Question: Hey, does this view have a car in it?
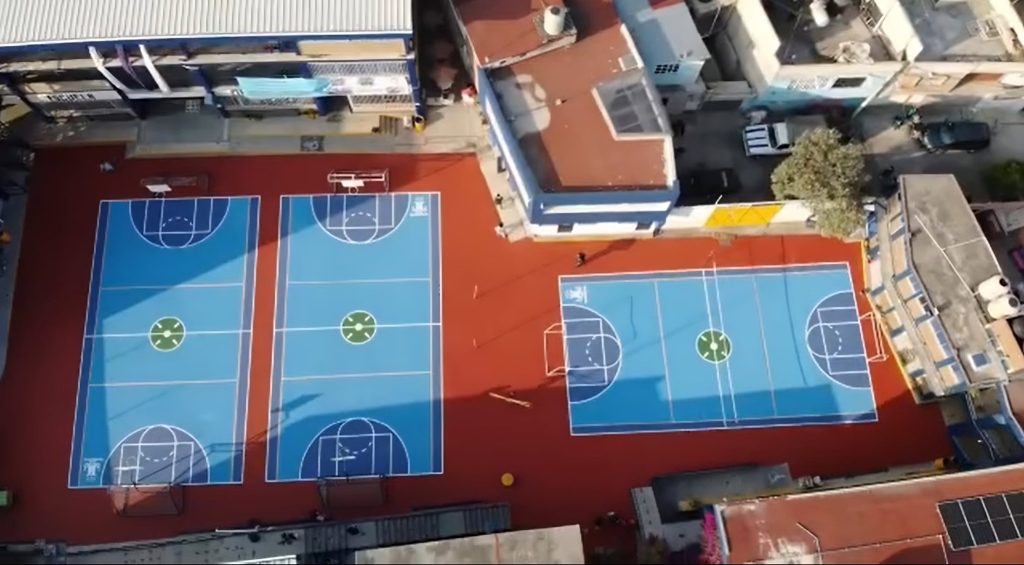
Yes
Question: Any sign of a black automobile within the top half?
Yes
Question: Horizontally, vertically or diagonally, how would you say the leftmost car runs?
horizontally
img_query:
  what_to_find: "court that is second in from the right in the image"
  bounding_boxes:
[266,191,444,481]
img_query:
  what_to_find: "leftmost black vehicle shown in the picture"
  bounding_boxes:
[679,170,751,203]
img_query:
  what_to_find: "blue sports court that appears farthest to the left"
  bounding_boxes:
[66,196,261,488]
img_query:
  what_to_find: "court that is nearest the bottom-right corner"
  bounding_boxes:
[559,262,878,436]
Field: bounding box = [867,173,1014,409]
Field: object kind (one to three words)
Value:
building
